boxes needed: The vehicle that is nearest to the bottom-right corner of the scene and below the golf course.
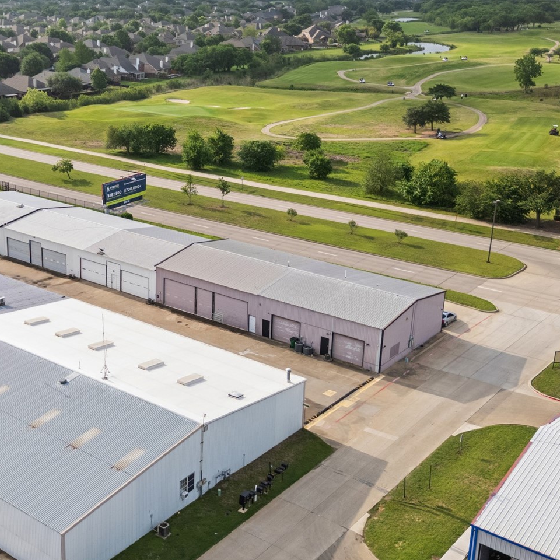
[442,308,456,326]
